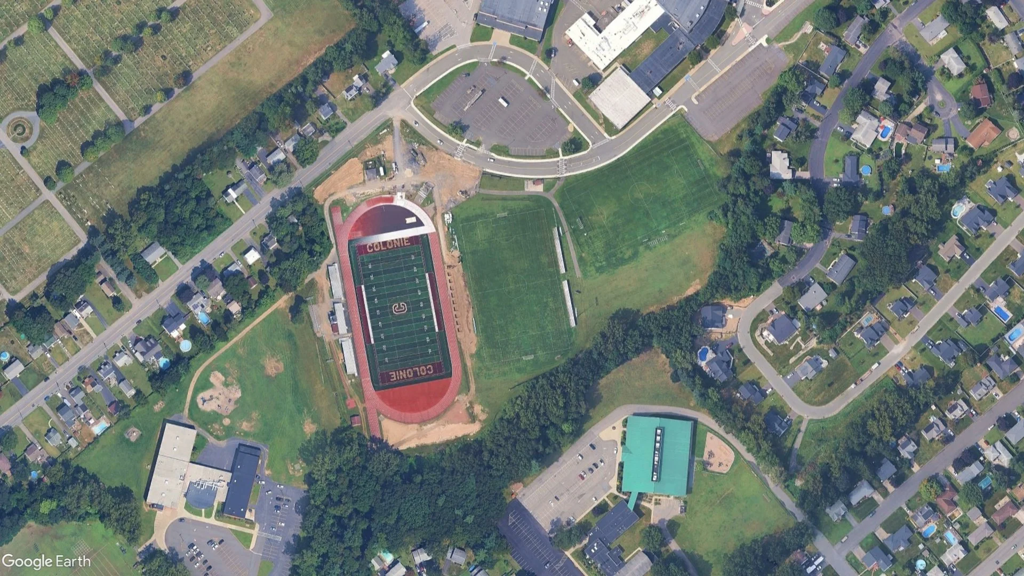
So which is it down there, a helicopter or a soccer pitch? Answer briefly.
soccer pitch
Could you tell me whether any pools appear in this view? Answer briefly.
Yes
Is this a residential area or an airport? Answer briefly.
residential area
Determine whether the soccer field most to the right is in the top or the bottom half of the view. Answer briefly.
top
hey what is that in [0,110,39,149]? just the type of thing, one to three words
roundabout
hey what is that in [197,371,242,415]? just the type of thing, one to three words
playground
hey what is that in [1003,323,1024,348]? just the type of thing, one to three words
swimming pool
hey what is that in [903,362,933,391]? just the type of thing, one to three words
house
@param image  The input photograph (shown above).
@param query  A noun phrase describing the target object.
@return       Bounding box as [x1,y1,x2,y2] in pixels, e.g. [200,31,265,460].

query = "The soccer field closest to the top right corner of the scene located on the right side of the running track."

[564,127,716,259]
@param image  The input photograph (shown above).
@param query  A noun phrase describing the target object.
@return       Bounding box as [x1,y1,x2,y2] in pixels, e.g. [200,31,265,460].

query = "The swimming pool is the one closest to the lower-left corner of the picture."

[88,416,112,439]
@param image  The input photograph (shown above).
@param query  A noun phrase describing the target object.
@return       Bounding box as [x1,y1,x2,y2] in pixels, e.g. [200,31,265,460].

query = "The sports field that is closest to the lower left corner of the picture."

[349,234,452,391]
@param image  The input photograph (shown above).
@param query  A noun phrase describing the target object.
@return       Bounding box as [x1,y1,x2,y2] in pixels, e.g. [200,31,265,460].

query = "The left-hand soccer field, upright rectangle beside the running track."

[460,208,570,365]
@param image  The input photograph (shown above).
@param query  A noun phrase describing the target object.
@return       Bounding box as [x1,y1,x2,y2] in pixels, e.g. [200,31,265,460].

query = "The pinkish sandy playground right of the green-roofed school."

[703,431,734,473]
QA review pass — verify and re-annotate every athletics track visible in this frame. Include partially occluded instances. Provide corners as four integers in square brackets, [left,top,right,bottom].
[331,193,461,446]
